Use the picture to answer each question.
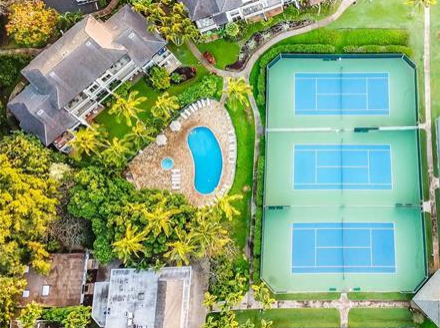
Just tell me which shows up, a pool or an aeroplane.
pool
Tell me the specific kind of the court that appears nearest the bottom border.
tennis court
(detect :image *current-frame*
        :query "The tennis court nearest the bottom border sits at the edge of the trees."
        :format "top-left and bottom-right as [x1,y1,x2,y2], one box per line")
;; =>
[263,206,426,292]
